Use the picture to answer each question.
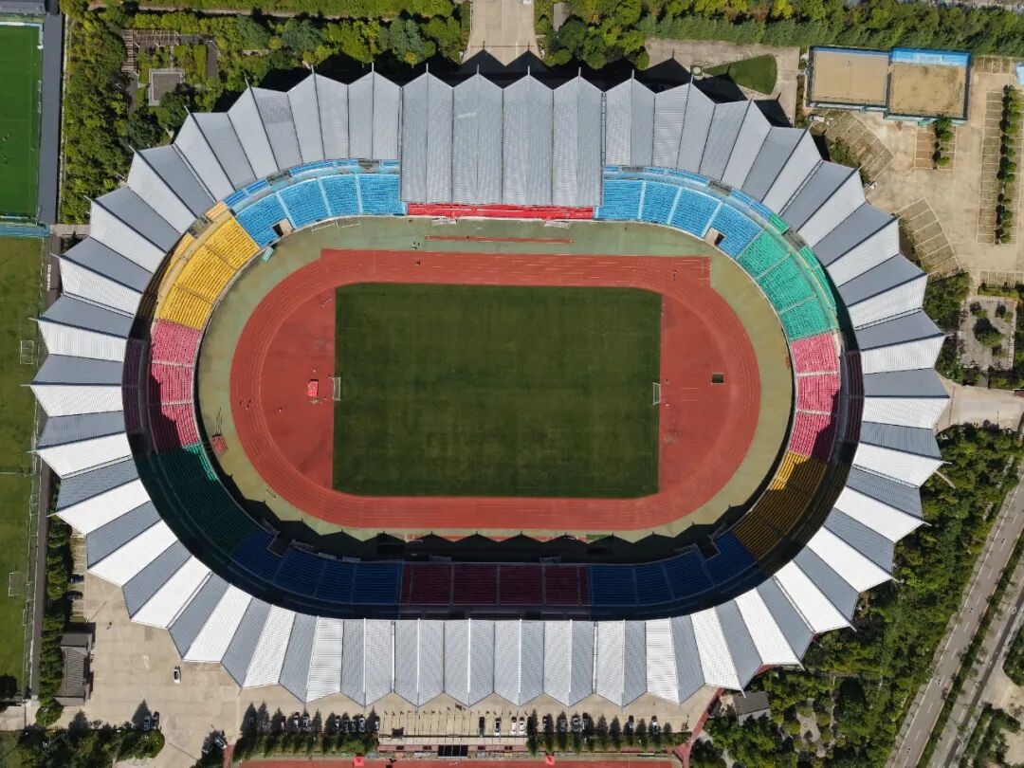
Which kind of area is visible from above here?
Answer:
sports ground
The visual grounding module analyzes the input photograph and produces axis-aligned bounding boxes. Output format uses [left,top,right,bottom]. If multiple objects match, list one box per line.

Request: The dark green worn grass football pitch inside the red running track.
[333,281,660,499]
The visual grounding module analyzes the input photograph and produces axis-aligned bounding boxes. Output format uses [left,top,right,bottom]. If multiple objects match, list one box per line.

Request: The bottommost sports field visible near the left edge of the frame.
[0,237,43,697]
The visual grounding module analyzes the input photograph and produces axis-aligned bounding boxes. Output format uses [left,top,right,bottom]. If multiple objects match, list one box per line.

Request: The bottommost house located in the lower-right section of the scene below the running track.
[729,685,773,725]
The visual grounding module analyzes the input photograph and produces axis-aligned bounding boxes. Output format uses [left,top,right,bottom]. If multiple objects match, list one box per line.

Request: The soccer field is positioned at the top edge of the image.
[0,26,40,219]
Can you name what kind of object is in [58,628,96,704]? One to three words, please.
house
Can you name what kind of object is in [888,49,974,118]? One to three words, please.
sports court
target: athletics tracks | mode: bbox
[232,247,761,532]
